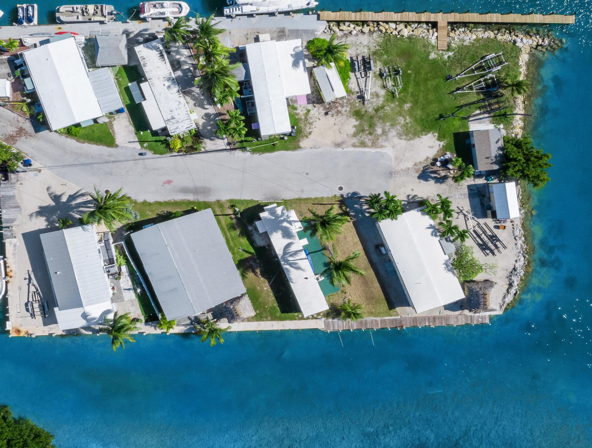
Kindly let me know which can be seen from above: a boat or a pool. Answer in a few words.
boat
